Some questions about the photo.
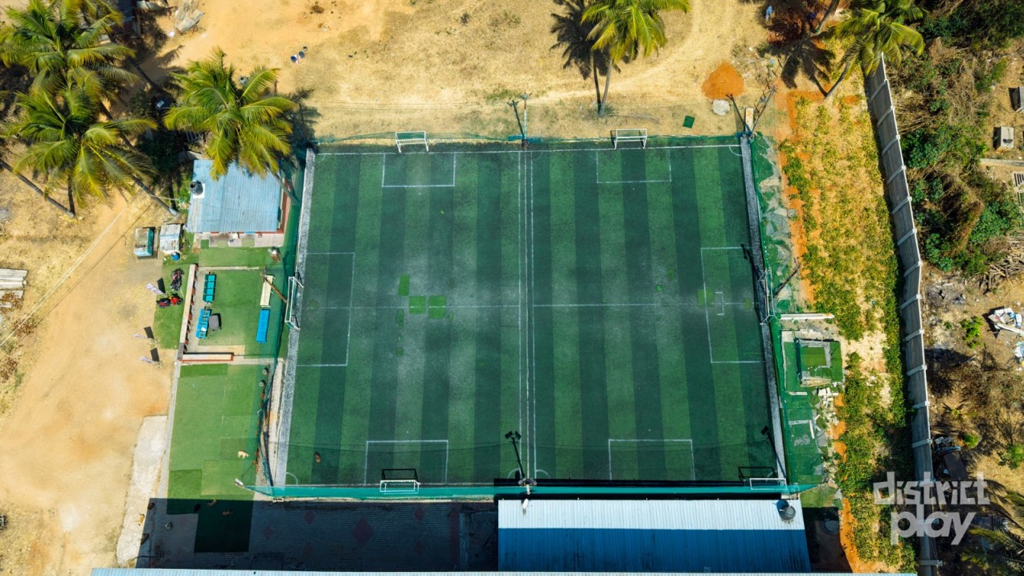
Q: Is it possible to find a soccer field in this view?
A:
Yes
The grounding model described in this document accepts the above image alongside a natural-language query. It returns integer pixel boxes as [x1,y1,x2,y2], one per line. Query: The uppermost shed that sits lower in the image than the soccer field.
[498,498,806,572]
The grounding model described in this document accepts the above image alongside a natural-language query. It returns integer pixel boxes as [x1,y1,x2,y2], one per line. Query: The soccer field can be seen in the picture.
[285,138,775,489]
